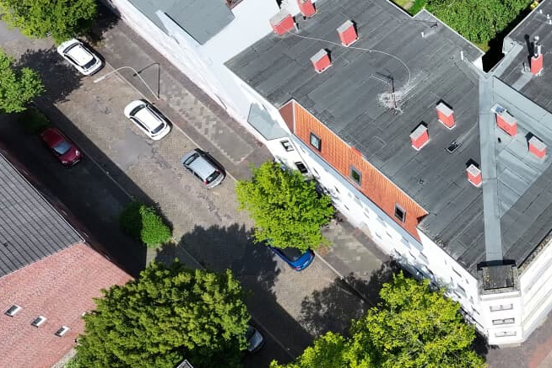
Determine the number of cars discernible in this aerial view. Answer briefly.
6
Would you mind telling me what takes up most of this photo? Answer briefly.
buildings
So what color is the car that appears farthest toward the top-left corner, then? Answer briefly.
white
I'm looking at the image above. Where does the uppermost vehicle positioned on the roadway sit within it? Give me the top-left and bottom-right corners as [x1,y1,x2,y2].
[61,43,103,80]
